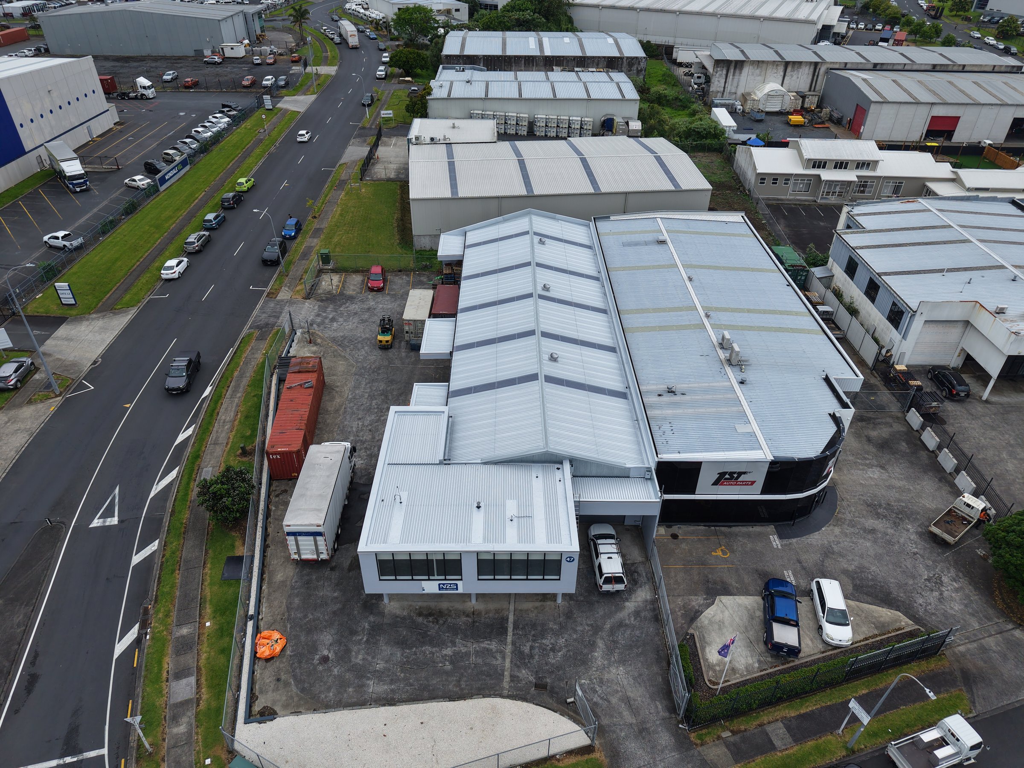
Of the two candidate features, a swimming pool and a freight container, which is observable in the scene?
freight container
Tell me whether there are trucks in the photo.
Yes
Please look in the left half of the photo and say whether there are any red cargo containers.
Yes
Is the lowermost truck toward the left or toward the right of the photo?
right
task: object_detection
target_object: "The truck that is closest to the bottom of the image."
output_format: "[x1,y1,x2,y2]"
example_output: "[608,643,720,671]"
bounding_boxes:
[886,709,995,768]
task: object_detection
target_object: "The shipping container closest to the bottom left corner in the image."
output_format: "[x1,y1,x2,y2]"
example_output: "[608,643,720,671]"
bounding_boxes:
[262,358,319,480]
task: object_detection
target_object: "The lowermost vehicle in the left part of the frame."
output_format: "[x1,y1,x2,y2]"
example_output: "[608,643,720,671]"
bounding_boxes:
[272,446,362,575]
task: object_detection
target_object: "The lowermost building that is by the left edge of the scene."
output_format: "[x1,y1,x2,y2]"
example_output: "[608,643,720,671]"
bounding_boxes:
[0,52,135,192]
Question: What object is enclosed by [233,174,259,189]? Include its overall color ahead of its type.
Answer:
green car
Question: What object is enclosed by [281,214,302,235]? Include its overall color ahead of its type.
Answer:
blue car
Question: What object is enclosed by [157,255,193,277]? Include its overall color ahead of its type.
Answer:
white car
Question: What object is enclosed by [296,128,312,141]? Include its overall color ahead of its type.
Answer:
white vehicle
